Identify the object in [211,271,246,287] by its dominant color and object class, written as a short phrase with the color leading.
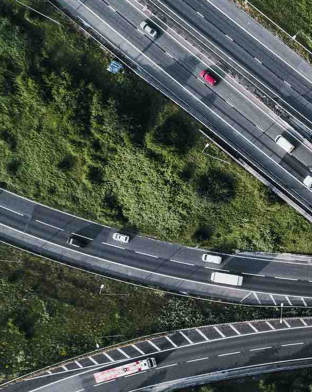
white vehicle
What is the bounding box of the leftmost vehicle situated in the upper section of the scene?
[138,21,160,40]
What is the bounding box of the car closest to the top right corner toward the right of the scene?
[199,69,221,88]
